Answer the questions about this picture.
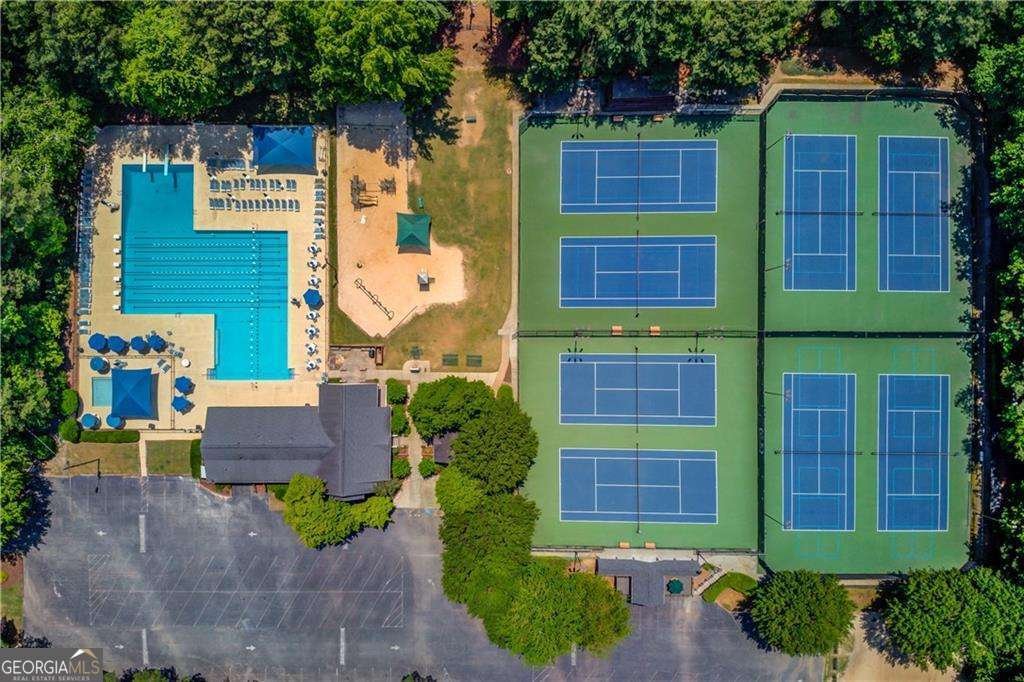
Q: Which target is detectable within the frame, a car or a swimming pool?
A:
swimming pool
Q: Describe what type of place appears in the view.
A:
sports ground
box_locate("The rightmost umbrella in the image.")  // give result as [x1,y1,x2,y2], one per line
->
[666,577,683,594]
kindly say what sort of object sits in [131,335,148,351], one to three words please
umbrella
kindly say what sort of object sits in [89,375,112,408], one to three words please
swimming pool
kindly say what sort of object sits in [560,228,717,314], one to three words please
tennis court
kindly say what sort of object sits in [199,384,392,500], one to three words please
building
